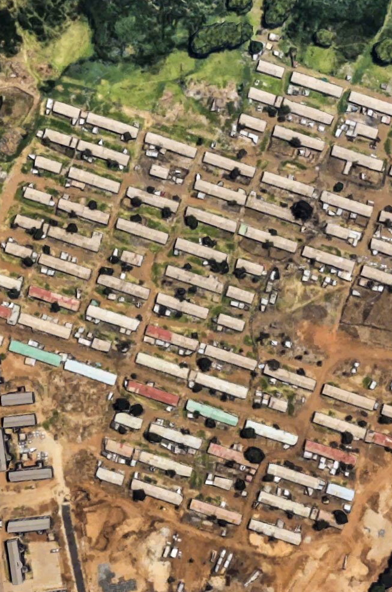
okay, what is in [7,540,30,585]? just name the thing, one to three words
building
